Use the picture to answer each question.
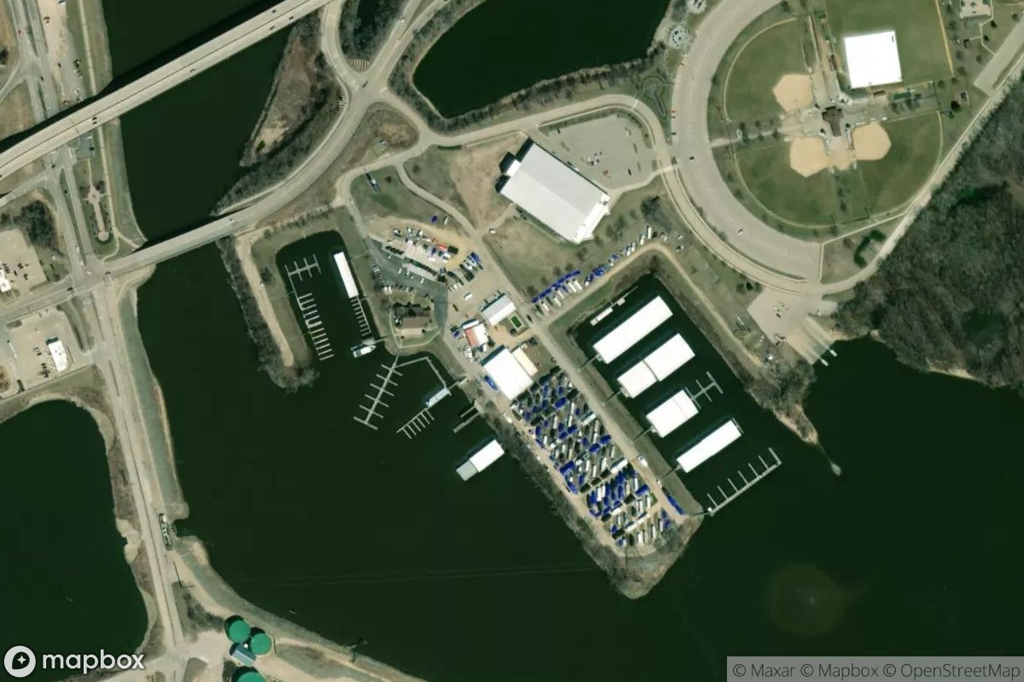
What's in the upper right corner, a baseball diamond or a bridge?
baseball diamond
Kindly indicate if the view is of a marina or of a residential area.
marina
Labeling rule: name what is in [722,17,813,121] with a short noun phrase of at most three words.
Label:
baseball field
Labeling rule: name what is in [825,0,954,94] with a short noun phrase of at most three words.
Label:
baseball field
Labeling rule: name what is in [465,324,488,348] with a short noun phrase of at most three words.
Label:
building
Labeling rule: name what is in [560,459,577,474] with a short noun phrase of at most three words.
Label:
boat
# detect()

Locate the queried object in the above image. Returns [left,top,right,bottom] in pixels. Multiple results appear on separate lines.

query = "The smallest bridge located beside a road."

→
[143,218,237,266]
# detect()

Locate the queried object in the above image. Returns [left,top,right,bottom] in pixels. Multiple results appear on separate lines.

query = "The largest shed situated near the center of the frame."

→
[484,348,533,399]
